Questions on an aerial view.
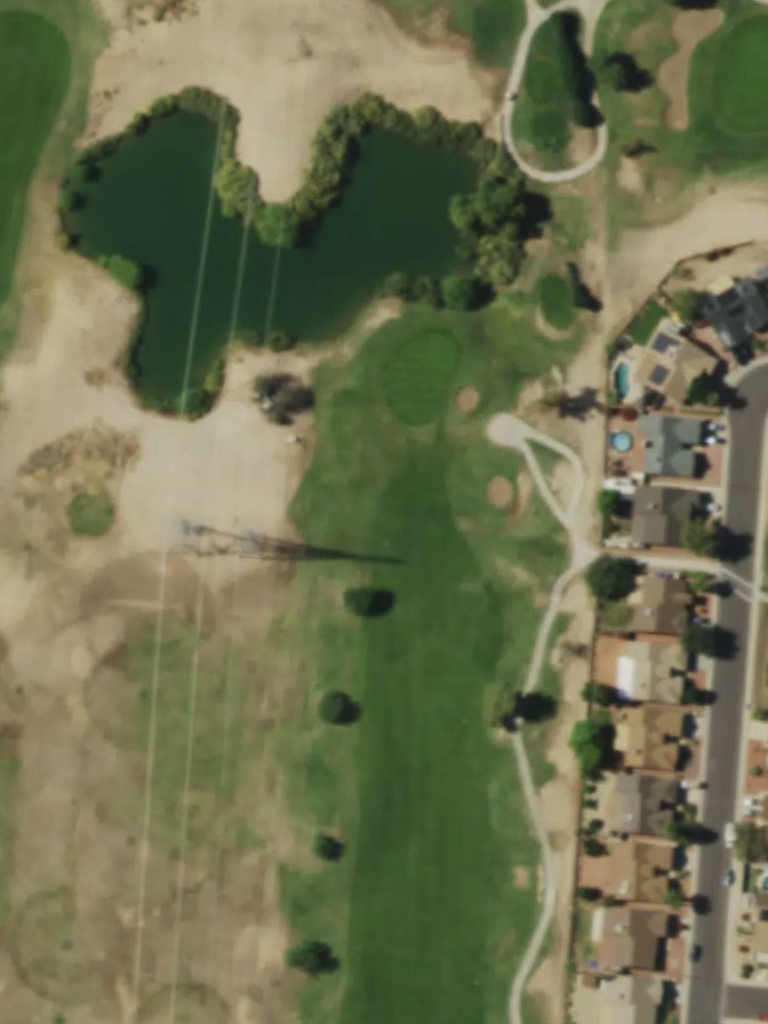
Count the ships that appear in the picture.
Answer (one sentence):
There are no ships in this view.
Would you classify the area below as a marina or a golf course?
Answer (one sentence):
The area seen from above is a golf course.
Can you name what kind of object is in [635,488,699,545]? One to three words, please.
house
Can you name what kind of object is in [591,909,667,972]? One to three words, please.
house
